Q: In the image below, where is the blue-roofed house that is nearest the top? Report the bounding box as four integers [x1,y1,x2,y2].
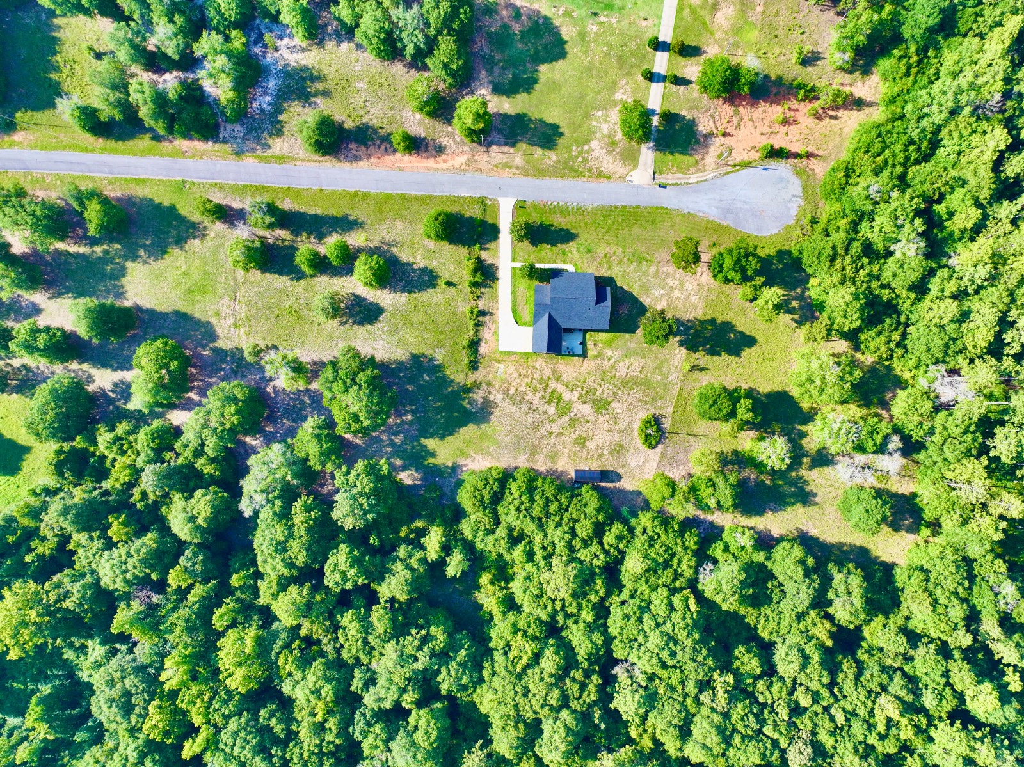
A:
[532,271,611,353]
